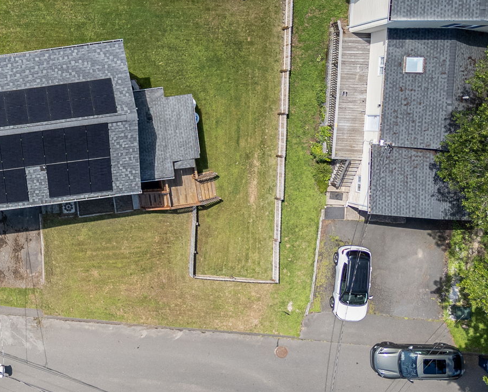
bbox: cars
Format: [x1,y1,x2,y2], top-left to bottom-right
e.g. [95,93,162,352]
[329,243,375,322]
[368,339,464,386]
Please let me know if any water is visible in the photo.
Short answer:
No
